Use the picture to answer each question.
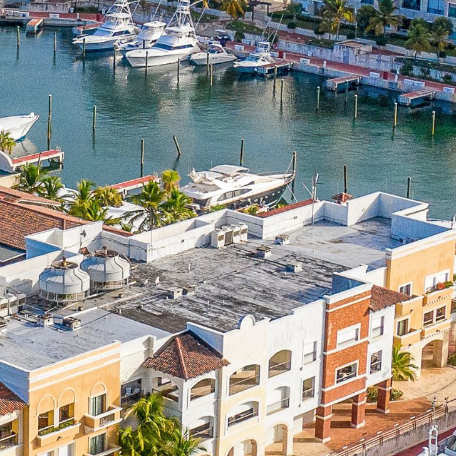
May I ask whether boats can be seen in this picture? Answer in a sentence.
Yes, the picture does show a boat.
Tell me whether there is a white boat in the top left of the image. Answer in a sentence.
Yes, the scene does show a white boat in the top left of the image.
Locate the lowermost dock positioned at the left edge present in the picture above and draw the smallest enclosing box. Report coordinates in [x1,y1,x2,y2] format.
[0,143,66,172]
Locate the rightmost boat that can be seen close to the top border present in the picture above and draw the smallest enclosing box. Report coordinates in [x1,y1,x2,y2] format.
[227,12,297,75]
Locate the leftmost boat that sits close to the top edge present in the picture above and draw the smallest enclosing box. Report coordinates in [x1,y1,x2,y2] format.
[66,0,141,48]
